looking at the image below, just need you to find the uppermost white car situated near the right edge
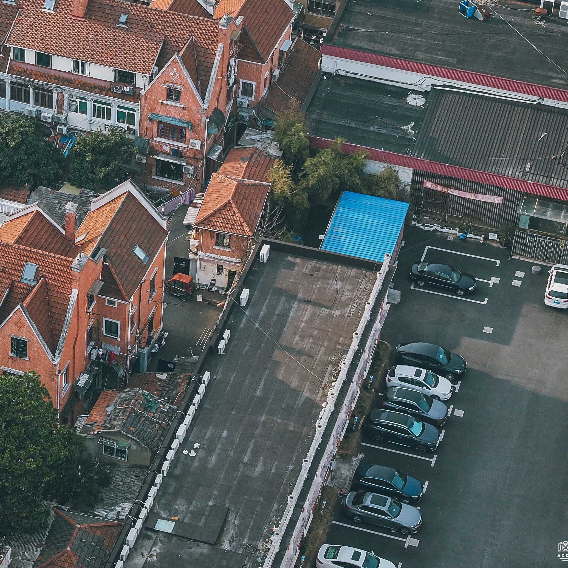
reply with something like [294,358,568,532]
[543,266,568,311]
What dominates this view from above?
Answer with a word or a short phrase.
buildings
